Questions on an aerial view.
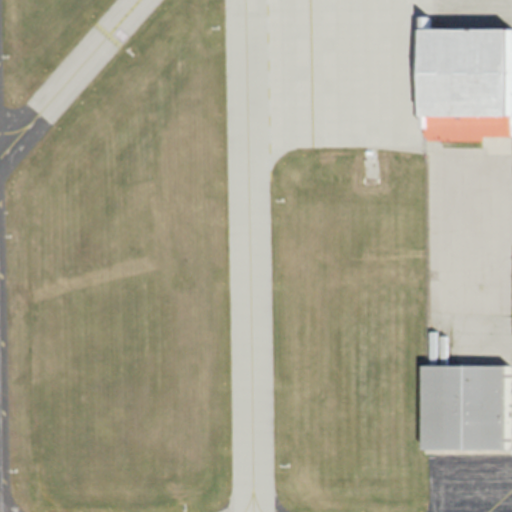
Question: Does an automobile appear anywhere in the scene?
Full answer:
No, there's no automobile here.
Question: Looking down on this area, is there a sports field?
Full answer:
No, this view has no sports field in it.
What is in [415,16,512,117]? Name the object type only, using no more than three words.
hangar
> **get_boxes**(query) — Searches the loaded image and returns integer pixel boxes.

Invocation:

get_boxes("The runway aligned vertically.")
[0,0,55,512]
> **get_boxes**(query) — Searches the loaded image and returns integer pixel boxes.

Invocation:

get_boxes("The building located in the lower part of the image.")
[420,366,510,450]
